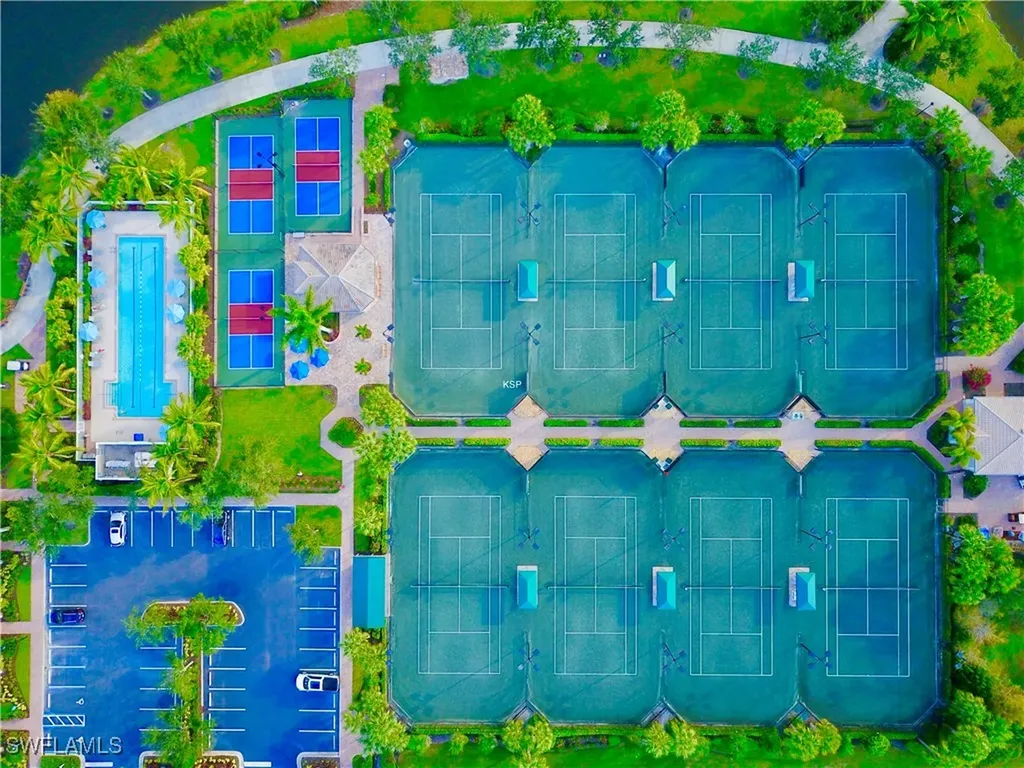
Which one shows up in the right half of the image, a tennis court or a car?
tennis court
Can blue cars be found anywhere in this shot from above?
Yes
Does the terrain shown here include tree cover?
Yes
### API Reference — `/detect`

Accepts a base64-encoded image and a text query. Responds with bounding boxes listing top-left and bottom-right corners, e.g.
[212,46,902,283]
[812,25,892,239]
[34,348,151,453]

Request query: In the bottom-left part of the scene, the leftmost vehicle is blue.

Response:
[50,609,87,627]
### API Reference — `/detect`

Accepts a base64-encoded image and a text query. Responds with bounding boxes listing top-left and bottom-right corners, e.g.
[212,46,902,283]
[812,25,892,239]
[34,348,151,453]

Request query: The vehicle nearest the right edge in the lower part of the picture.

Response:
[296,672,340,693]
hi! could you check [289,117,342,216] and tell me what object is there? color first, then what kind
blue sports court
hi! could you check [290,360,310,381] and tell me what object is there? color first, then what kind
blue umbrella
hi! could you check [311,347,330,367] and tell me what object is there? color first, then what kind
blue umbrella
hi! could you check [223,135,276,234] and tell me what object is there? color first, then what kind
blue sports court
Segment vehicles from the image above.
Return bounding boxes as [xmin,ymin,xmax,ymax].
[5,361,30,371]
[50,609,87,627]
[296,672,340,693]
[212,510,231,547]
[109,510,128,547]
